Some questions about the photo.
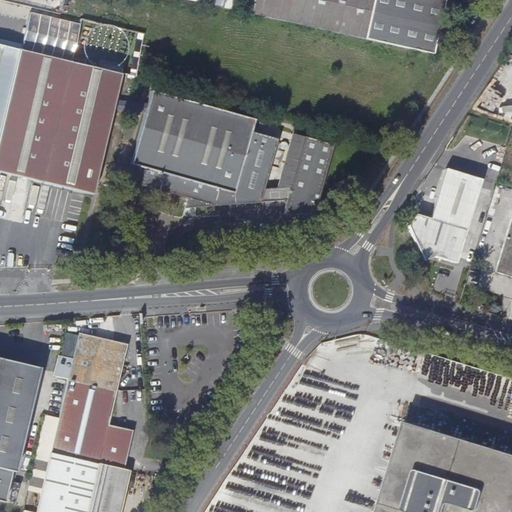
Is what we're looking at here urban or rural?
urban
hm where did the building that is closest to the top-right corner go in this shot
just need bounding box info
[368,0,446,53]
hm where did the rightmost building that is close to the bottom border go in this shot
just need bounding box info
[374,422,512,512]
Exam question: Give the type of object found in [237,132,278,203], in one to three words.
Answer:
building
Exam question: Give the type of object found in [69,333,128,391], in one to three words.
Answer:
building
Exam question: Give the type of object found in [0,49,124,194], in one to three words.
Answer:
warehouse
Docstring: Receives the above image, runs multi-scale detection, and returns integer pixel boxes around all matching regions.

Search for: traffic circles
[290,249,372,332]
